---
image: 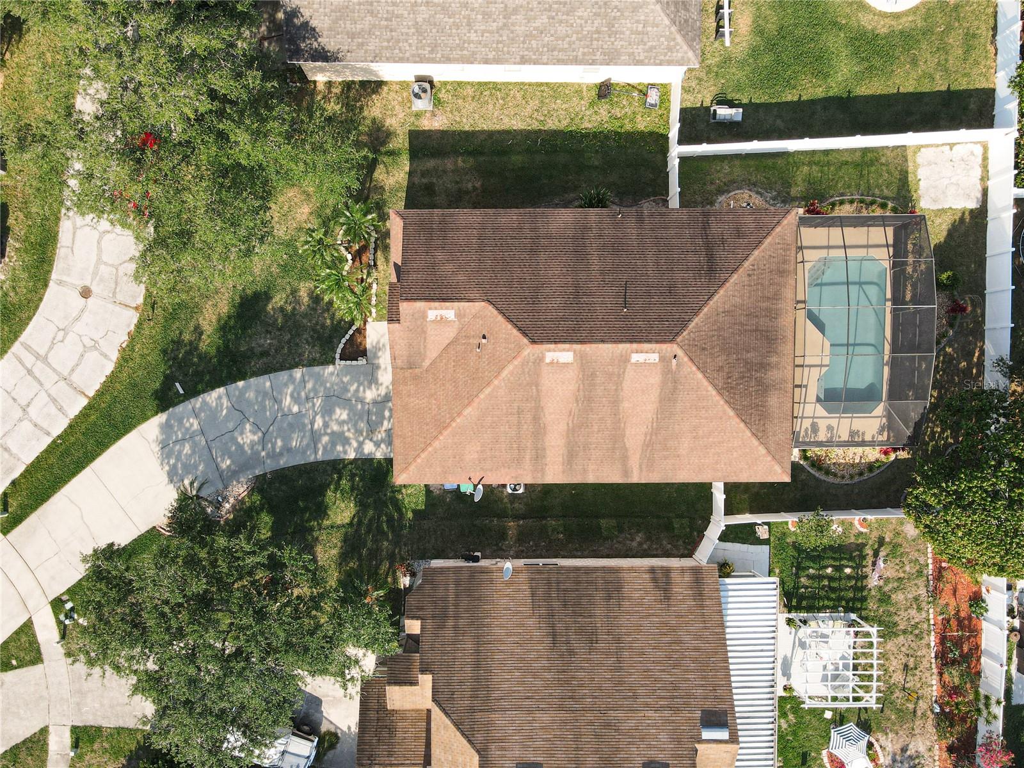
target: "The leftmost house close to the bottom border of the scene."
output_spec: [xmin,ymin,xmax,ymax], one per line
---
[357,559,740,768]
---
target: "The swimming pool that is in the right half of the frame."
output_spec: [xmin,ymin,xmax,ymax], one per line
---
[806,254,889,416]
